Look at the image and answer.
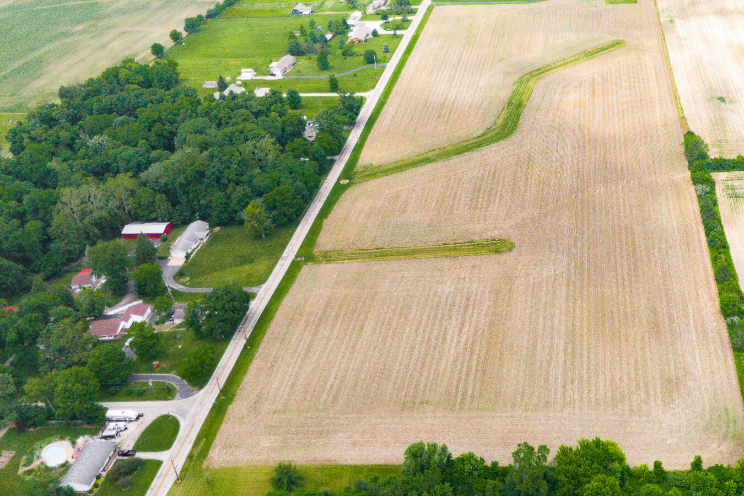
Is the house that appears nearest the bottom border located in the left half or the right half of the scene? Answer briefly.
left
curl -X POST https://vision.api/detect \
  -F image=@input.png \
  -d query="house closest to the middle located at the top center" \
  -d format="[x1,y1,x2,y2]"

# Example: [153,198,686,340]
[302,122,320,147]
